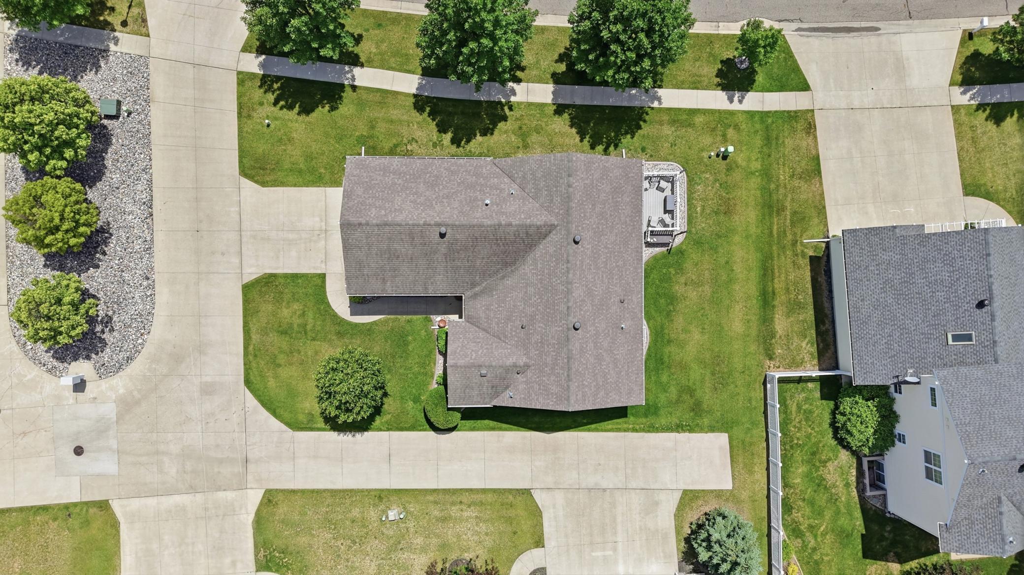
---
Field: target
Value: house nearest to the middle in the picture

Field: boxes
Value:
[338,147,646,412]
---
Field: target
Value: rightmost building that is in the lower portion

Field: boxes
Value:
[803,222,1024,559]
